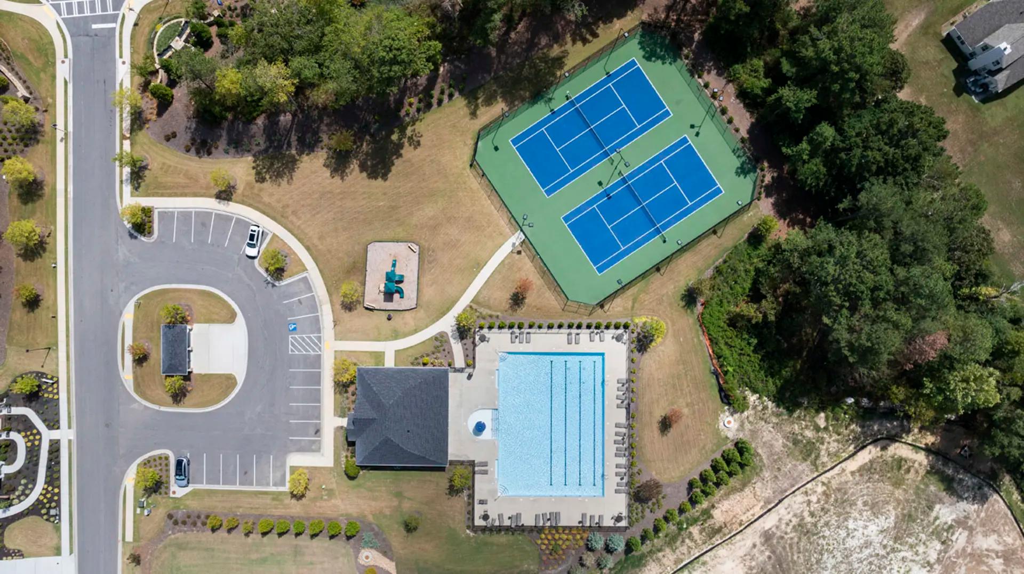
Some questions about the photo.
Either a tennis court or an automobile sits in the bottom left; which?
automobile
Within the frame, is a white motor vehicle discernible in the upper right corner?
No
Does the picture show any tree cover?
Yes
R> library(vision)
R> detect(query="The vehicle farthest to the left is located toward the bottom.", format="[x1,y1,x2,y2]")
[175,456,191,487]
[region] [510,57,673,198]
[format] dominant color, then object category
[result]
blue tennis court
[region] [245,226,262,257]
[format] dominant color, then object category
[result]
white car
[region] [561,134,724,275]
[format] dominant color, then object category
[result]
blue tennis court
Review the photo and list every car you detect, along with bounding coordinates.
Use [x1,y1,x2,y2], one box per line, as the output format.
[175,456,191,487]
[245,226,262,257]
